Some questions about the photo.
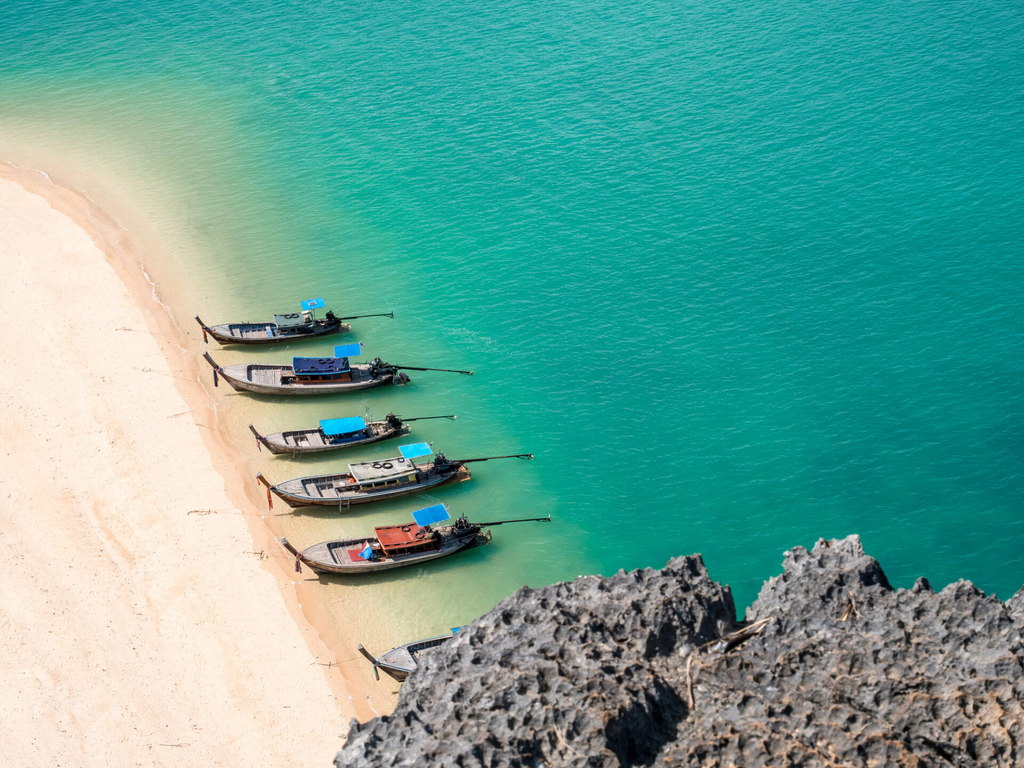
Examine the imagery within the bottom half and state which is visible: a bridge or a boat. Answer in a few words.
boat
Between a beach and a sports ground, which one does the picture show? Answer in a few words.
beach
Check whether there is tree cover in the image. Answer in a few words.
No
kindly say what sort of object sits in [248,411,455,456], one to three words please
boat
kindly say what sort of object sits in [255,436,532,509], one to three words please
boat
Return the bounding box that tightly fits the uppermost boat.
[194,298,393,348]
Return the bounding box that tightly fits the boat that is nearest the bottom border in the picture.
[358,622,480,682]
